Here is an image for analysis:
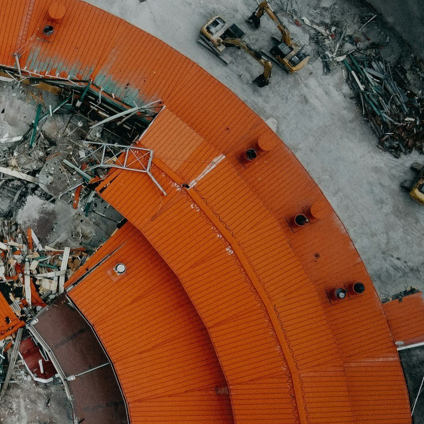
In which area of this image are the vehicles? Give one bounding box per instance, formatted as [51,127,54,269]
[186,14,272,88]
[248,0,311,81]
[399,166,424,206]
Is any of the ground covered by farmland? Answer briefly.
No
